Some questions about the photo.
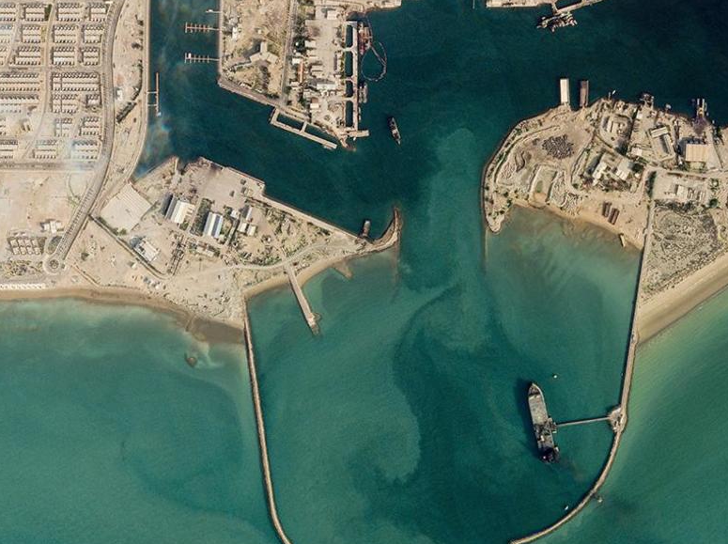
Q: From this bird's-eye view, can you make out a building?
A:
Yes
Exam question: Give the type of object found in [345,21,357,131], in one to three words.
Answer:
pier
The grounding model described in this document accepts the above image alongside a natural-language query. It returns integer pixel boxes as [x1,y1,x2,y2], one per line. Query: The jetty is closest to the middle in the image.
[284,264,318,334]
